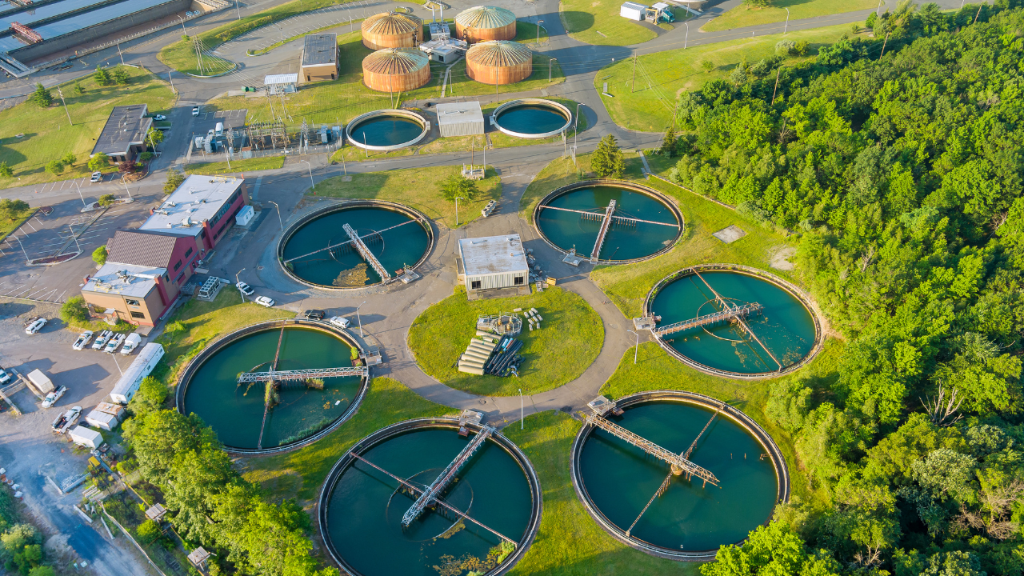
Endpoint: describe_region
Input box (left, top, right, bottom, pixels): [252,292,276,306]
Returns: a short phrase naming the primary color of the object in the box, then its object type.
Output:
white car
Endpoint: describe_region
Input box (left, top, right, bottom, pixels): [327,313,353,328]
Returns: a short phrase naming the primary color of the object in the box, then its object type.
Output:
white car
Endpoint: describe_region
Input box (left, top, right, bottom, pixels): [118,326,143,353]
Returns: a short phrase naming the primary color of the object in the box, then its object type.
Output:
white truck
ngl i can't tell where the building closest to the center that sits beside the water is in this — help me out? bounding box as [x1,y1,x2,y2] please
[452,233,531,304]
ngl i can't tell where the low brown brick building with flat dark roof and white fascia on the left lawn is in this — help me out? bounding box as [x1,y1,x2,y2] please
[95,103,153,166]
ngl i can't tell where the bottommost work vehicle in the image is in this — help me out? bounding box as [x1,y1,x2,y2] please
[81,452,102,474]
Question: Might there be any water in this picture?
Yes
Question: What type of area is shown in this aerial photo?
industrial area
